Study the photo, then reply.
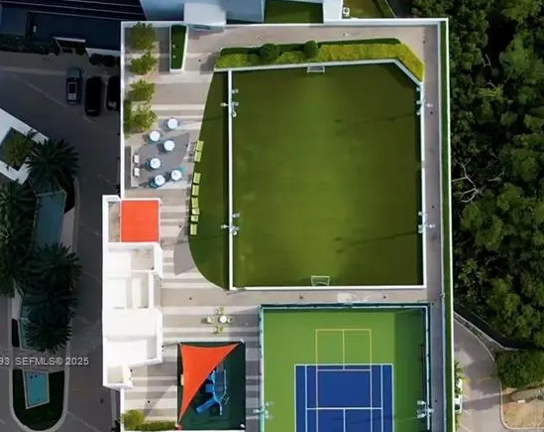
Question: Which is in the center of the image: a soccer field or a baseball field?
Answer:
soccer field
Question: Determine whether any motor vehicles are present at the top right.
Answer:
No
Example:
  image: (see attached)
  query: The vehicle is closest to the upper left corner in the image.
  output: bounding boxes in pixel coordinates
[65,67,84,106]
